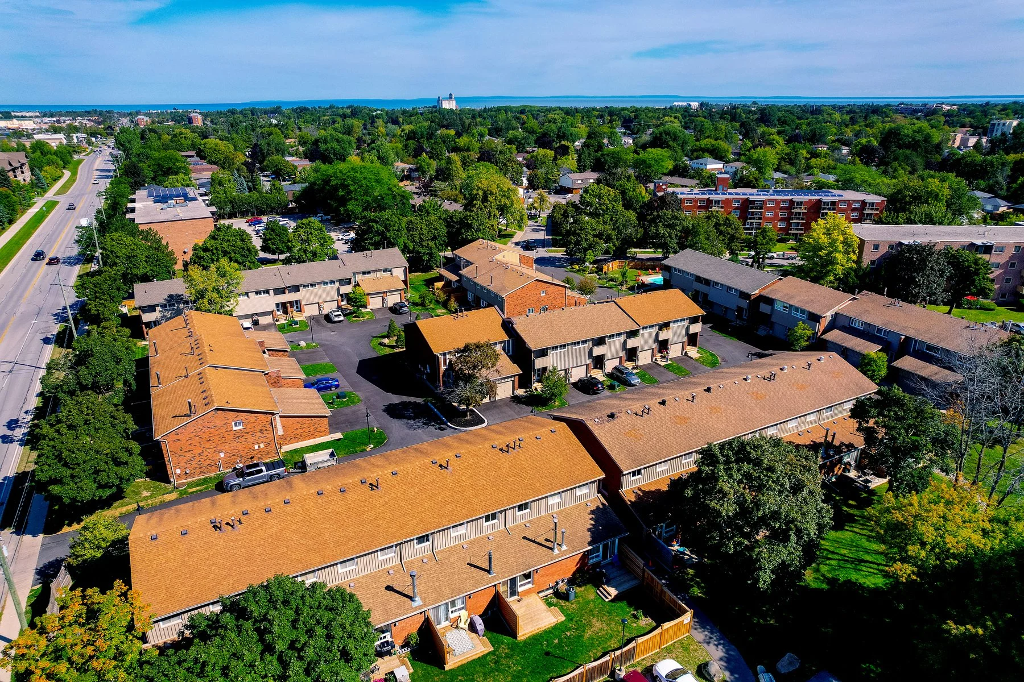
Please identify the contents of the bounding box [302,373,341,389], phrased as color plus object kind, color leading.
blue car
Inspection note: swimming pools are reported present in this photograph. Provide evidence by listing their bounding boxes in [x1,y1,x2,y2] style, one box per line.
[638,273,663,289]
